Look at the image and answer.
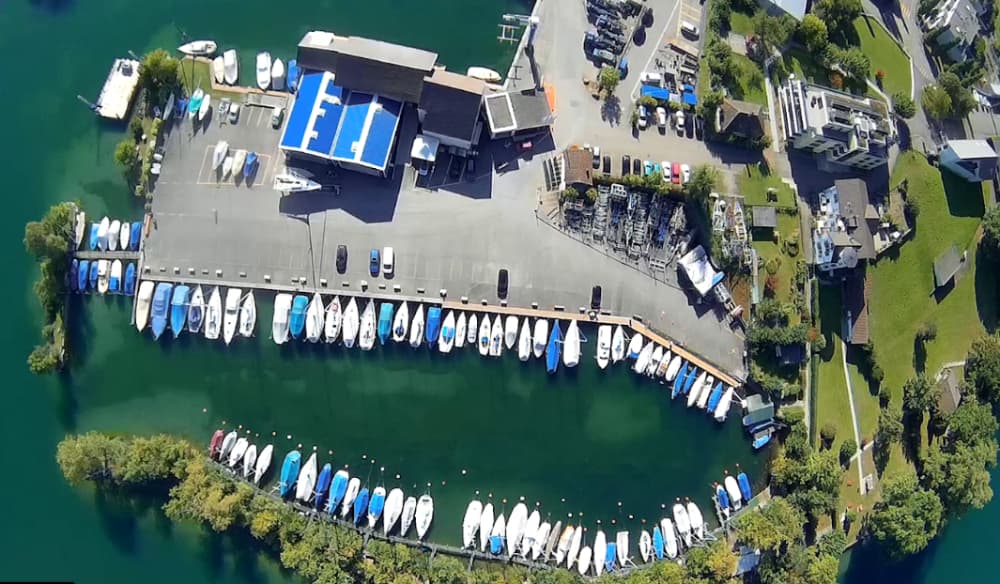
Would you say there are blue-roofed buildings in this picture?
Yes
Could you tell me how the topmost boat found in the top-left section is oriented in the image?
from side to side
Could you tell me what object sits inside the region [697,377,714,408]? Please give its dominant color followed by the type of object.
white boat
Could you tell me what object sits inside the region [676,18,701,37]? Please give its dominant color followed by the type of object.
white vehicle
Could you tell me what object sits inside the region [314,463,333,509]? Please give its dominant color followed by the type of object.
blue boat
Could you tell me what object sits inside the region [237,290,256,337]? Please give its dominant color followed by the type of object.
white boat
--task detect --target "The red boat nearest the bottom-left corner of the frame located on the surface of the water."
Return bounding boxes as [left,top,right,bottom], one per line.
[211,427,226,458]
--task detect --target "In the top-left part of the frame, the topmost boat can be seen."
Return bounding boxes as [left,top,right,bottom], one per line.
[178,33,220,55]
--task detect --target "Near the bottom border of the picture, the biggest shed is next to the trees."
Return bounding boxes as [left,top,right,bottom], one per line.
[738,545,760,573]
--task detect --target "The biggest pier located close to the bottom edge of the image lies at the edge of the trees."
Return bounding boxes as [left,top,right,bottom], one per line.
[203,451,769,583]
